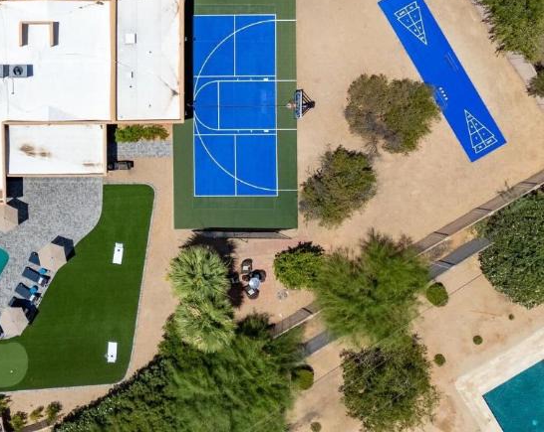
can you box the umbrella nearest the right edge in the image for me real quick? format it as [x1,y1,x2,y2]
[38,243,66,272]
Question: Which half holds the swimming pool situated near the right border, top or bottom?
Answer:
bottom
